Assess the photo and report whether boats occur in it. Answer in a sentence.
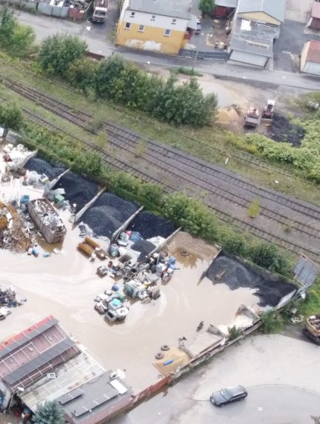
No, I can see no boat in this picture.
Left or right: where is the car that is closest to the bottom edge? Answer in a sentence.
The car that is closest to the bottom edge is on the right side of the image.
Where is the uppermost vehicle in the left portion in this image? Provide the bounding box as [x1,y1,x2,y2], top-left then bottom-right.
[92,0,107,21]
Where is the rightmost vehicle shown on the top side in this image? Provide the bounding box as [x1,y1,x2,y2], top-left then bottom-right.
[260,97,277,121]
